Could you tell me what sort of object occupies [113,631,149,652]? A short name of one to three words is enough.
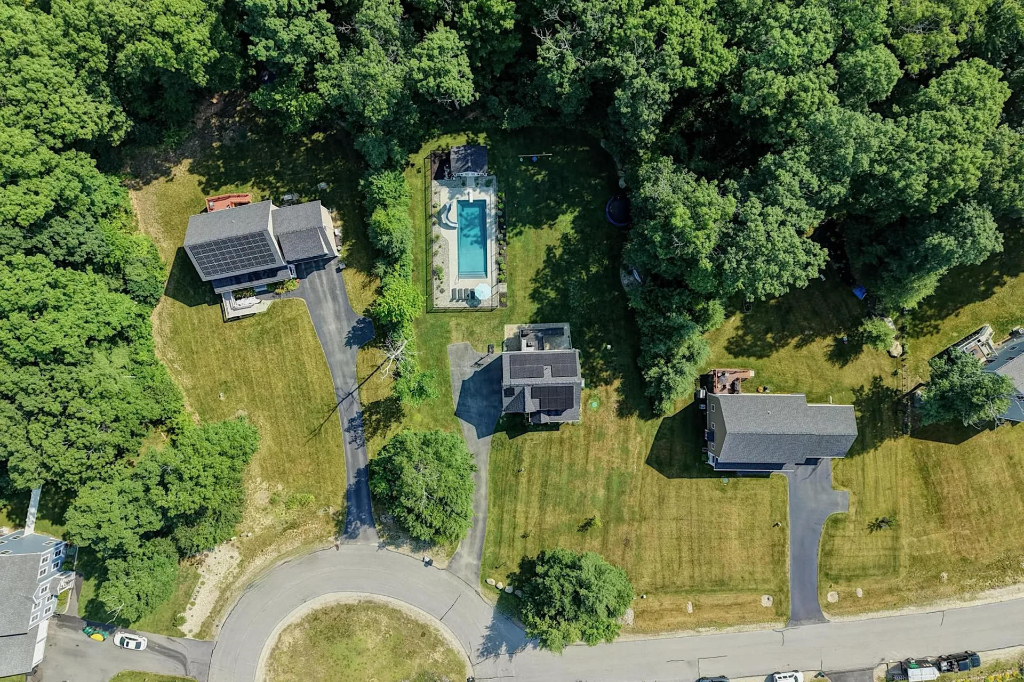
car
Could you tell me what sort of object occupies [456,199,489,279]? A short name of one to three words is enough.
swimming pool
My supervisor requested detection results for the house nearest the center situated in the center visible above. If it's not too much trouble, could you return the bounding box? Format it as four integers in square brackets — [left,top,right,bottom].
[502,322,581,424]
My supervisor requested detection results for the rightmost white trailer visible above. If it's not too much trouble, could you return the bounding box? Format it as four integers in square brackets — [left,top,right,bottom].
[883,659,946,682]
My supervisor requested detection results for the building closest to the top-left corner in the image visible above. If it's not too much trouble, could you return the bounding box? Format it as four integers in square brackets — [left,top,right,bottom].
[184,193,336,297]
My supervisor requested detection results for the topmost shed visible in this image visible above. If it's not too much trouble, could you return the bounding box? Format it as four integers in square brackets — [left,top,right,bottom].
[450,142,488,177]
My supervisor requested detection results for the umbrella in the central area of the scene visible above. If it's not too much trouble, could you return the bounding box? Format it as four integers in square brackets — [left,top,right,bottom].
[475,284,492,301]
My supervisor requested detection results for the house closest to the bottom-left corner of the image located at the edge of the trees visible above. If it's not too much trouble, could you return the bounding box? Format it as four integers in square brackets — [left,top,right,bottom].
[0,533,87,678]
